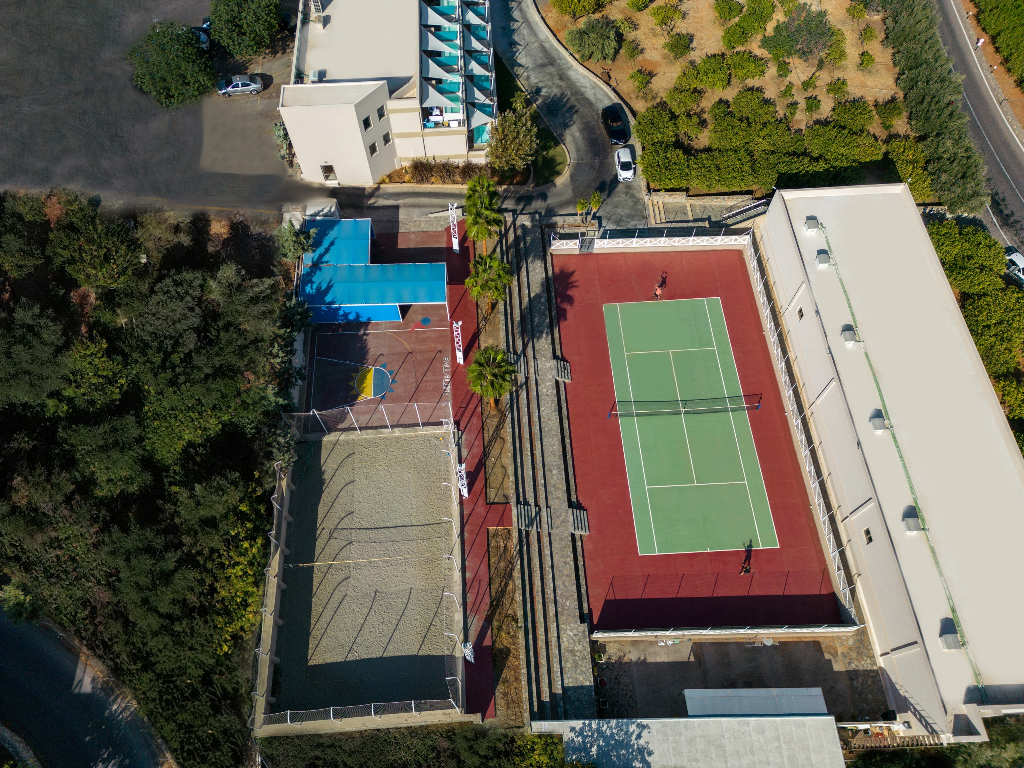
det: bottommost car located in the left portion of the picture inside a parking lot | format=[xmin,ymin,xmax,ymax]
[217,73,263,99]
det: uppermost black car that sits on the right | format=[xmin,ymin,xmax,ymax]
[604,108,628,145]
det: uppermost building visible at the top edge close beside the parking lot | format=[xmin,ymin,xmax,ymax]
[278,0,498,186]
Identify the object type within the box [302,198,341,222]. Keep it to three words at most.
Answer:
shed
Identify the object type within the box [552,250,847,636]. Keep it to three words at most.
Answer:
tennis court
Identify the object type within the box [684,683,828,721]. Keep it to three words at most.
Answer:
shed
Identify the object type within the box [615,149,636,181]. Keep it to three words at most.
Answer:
car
